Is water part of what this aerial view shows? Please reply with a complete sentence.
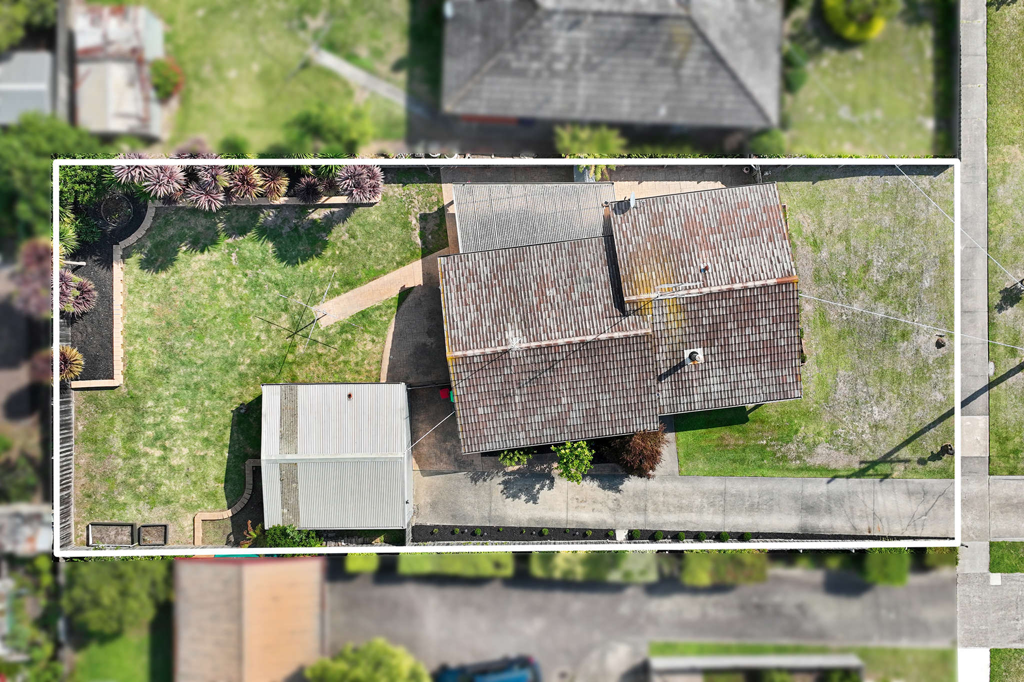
No, no water is visible.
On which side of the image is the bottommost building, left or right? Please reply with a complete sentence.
You can find the bottommost building on the left side of the picture.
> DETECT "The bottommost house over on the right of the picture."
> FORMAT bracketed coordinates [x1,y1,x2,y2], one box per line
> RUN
[439,180,806,456]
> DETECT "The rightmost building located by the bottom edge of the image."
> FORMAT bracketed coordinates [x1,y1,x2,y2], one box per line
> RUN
[174,553,336,682]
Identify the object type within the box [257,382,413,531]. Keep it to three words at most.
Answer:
building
